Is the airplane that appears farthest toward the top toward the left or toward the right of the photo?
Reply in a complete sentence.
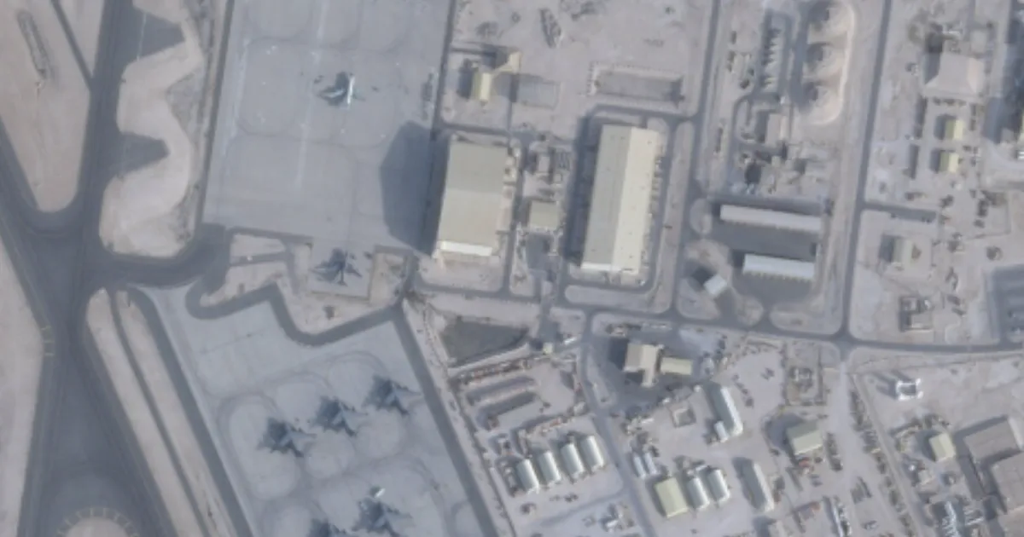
The airplane that appears farthest toward the top sits on the left side.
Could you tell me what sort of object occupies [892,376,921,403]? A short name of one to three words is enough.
building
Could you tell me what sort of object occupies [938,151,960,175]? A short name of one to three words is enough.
shed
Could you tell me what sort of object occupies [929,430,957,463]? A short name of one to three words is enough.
building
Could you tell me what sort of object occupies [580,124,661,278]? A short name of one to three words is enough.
hangar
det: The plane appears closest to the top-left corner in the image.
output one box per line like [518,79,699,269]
[328,75,370,104]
